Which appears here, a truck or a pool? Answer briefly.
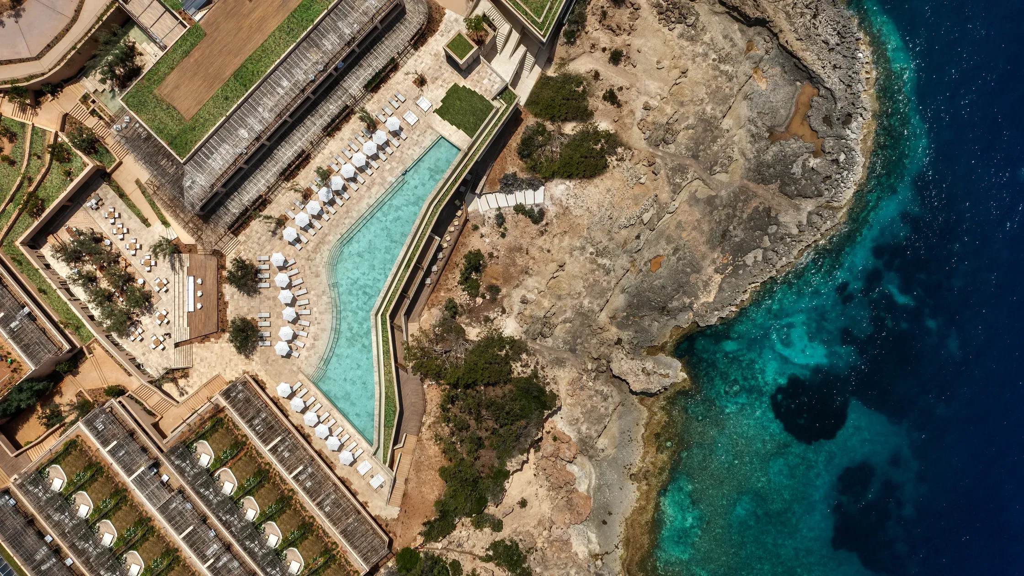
pool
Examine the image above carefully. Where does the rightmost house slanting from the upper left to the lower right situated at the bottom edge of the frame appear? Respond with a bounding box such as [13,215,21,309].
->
[217,371,403,571]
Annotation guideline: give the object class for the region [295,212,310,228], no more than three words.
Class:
umbrella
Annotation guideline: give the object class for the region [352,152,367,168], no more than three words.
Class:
umbrella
